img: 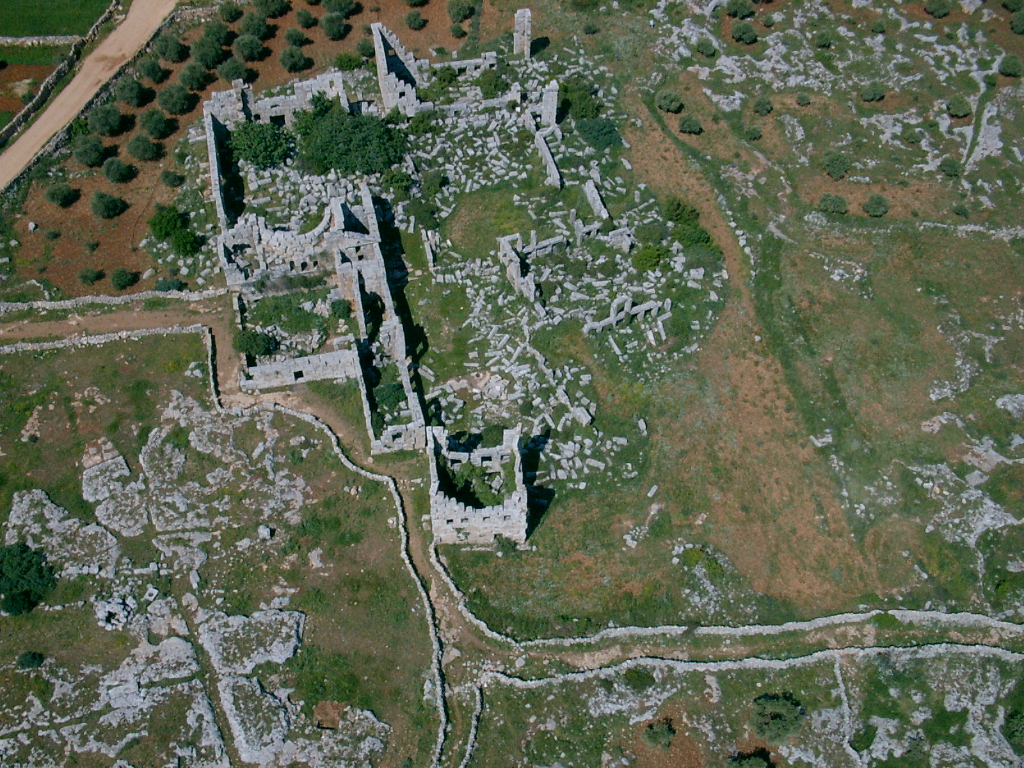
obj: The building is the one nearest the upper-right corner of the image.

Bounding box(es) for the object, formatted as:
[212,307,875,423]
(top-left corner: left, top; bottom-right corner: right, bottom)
[498,229,567,303]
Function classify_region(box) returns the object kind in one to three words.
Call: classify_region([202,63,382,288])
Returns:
church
